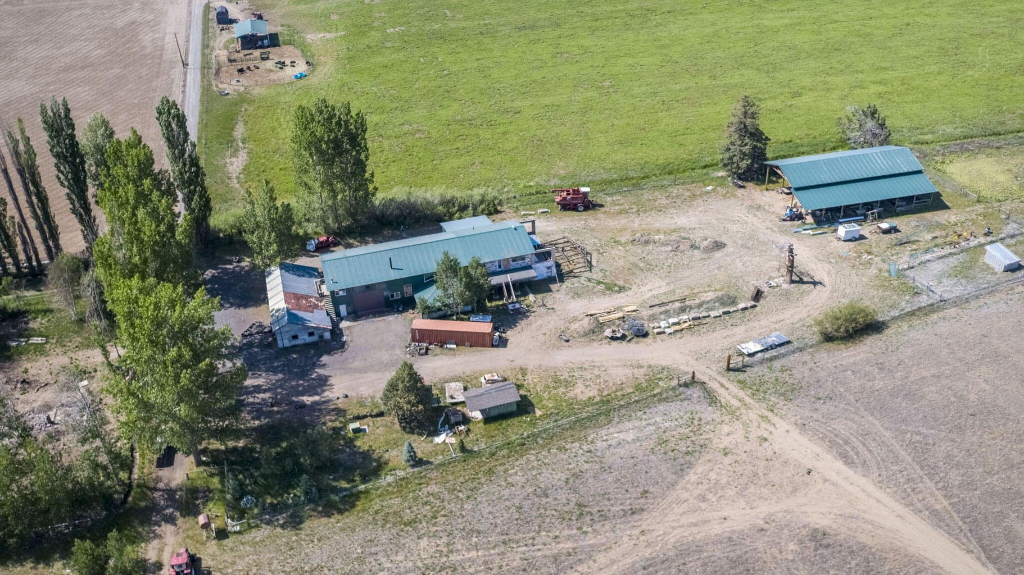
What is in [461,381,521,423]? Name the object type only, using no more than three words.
building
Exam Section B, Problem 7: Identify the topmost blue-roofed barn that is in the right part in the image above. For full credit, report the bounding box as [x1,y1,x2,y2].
[767,144,939,220]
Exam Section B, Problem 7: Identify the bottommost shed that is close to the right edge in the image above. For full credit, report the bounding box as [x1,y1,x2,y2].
[986,241,1023,272]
